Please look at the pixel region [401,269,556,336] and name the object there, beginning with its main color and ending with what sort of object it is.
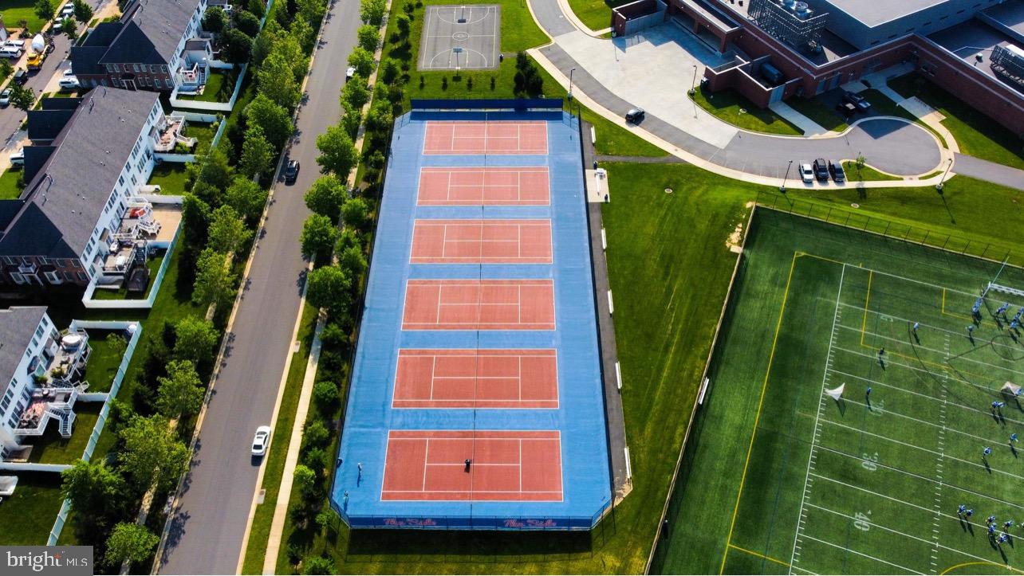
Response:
red tennis court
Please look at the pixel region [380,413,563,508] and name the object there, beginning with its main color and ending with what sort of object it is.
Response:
red tennis court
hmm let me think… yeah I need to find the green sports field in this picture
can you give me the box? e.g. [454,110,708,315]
[647,207,1024,576]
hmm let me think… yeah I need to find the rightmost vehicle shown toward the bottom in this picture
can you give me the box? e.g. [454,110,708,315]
[247,427,268,459]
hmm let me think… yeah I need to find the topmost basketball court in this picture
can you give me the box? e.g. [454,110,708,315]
[417,4,502,71]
